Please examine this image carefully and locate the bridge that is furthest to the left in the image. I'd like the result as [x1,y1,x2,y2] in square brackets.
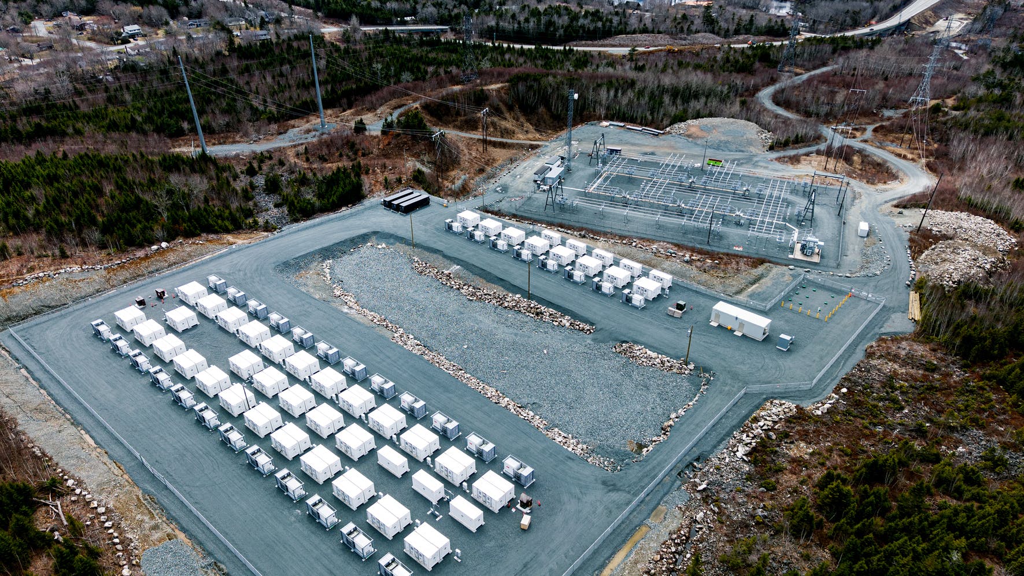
[338,25,456,38]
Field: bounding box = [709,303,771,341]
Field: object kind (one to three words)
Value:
building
